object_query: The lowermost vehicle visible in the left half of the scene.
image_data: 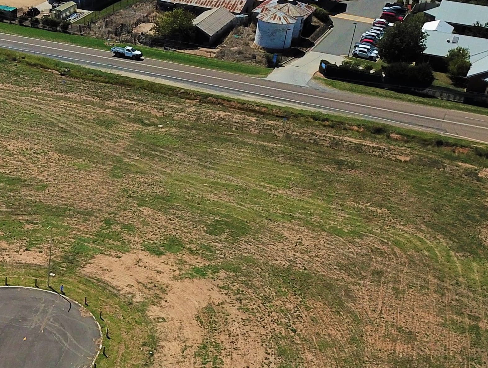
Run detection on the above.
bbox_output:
[110,43,146,60]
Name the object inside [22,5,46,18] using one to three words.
vehicle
